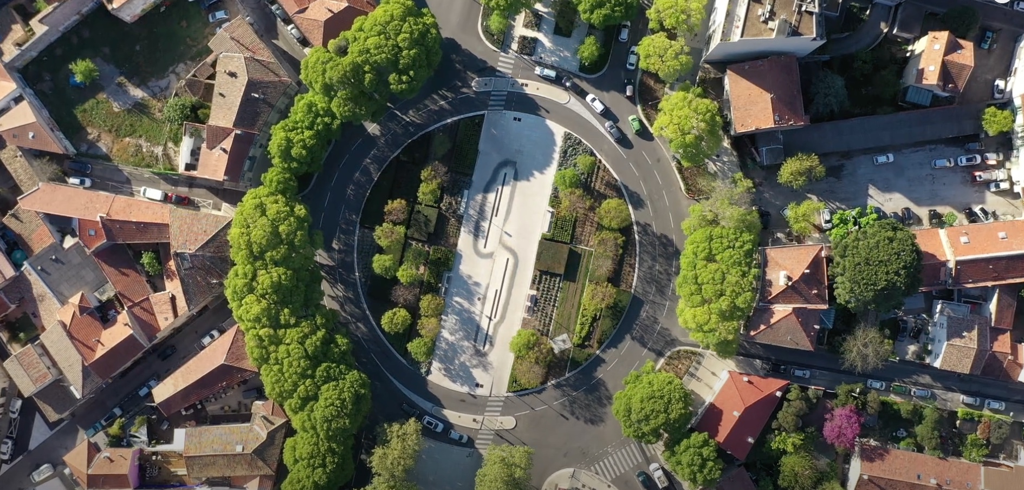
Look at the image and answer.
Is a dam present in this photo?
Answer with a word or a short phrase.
No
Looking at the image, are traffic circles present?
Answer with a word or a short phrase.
Yes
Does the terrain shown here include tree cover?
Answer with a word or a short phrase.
Yes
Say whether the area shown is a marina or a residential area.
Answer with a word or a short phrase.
residential area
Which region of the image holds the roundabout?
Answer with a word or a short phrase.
center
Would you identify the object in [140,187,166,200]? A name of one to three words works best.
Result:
vehicle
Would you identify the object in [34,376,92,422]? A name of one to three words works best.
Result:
house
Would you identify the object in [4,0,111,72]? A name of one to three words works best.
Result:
building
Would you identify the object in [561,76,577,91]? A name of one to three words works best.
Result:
car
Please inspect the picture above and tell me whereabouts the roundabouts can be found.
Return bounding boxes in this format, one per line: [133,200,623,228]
[310,45,697,481]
